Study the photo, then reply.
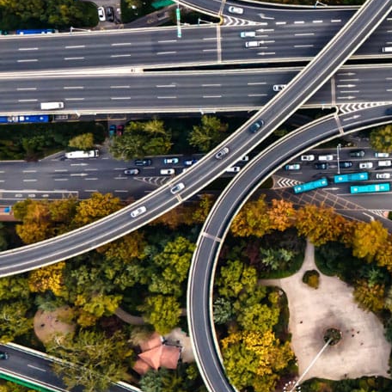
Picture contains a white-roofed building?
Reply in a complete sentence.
No, I find no white-roofed building anywhere in the image.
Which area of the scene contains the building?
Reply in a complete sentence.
The building is located in the bottom region of the scene.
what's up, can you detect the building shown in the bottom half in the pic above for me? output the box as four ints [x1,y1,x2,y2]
[131,334,181,383]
